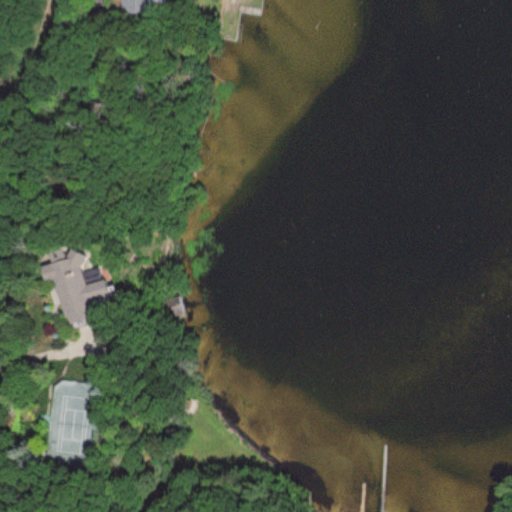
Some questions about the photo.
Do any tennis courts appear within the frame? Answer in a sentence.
Yes, the photo shows a tennis court.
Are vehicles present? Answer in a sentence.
No, the photo shows no vehicle.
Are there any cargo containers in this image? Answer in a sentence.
No, this view has no cargo container in it.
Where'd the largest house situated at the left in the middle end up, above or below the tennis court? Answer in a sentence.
Looking at the photo, you'll find the largest house situated at the left in the middle above the tennis court.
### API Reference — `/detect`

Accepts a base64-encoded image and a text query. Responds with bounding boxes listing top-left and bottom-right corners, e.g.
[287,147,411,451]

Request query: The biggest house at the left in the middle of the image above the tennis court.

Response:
[41,249,112,327]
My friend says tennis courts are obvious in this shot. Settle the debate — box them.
[47,380,100,460]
